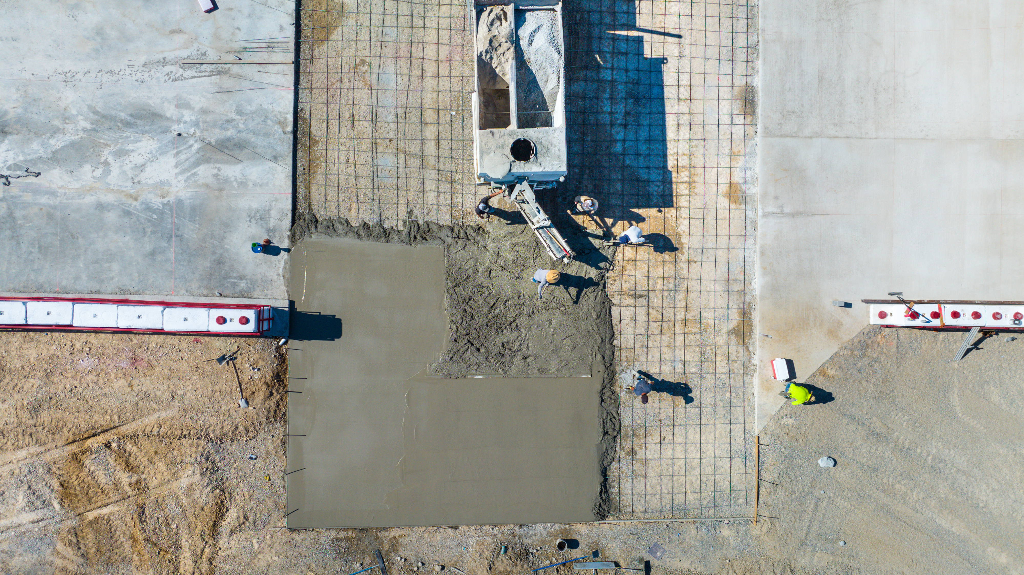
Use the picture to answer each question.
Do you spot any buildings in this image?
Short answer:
No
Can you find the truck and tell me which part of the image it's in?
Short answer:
top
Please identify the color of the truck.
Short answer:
white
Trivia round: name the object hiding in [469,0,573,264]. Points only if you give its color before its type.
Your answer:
white truck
